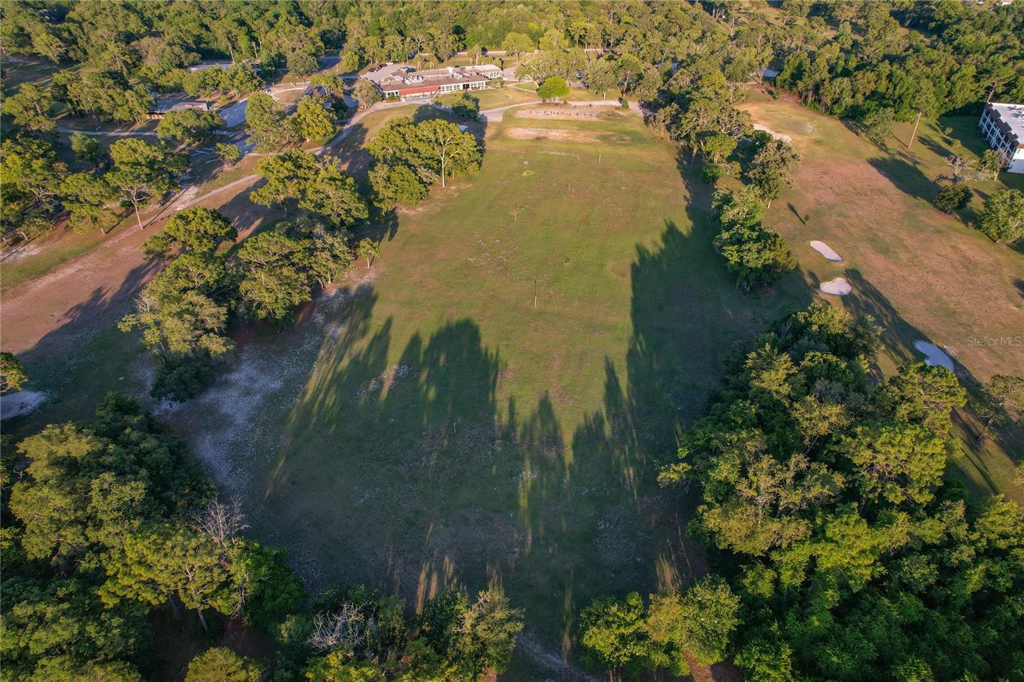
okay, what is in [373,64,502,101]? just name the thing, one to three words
building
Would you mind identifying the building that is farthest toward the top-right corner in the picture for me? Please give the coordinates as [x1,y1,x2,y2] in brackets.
[978,102,1024,181]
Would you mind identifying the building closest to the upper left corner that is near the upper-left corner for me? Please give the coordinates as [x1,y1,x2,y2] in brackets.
[145,93,206,116]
